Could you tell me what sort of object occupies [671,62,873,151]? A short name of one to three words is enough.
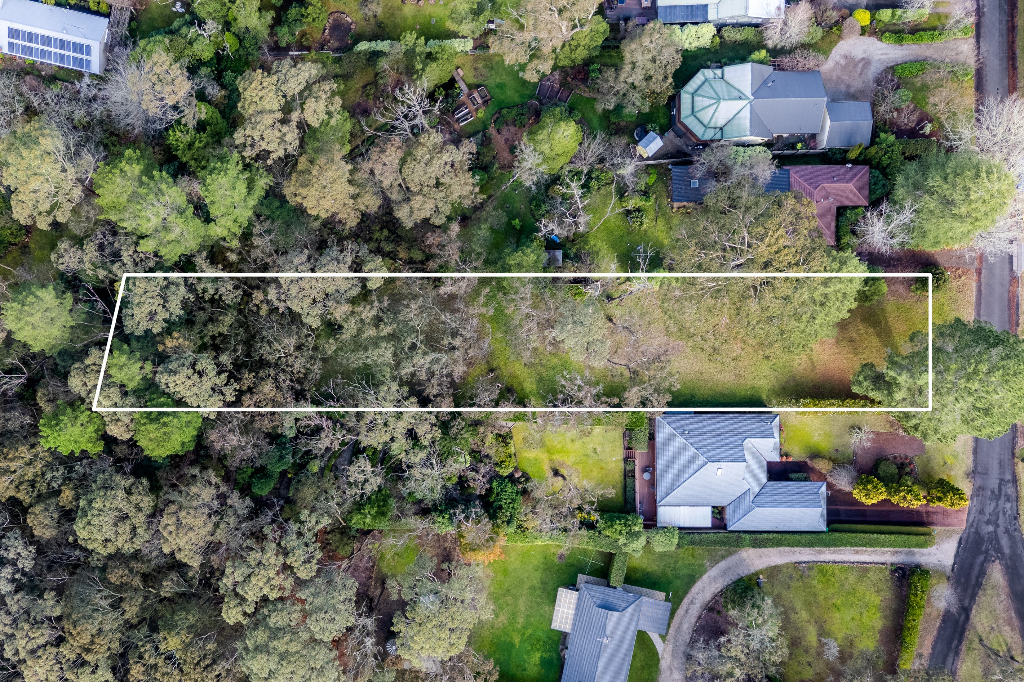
house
